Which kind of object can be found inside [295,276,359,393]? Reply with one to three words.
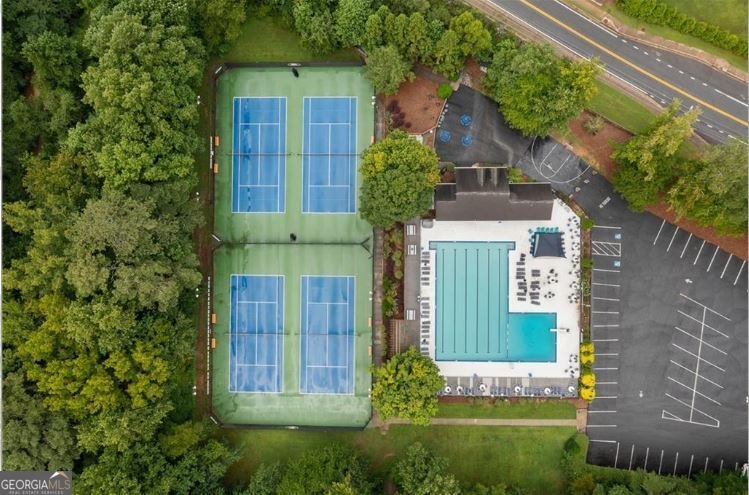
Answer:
tennis court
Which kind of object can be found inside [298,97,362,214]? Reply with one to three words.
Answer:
tennis court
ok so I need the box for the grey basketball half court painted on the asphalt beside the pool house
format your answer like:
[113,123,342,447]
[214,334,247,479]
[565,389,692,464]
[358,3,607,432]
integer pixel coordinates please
[516,130,598,196]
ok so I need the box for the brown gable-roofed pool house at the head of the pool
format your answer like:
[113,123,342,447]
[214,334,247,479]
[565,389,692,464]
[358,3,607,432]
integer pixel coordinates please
[436,167,555,222]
